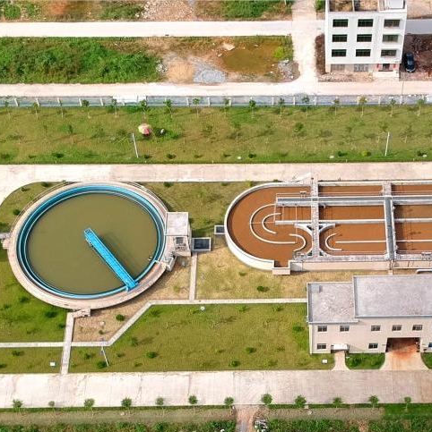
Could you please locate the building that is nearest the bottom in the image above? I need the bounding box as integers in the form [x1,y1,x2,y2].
[307,272,432,354]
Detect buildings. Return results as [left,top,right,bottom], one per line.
[162,212,191,275]
[307,272,432,354]
[323,0,405,79]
